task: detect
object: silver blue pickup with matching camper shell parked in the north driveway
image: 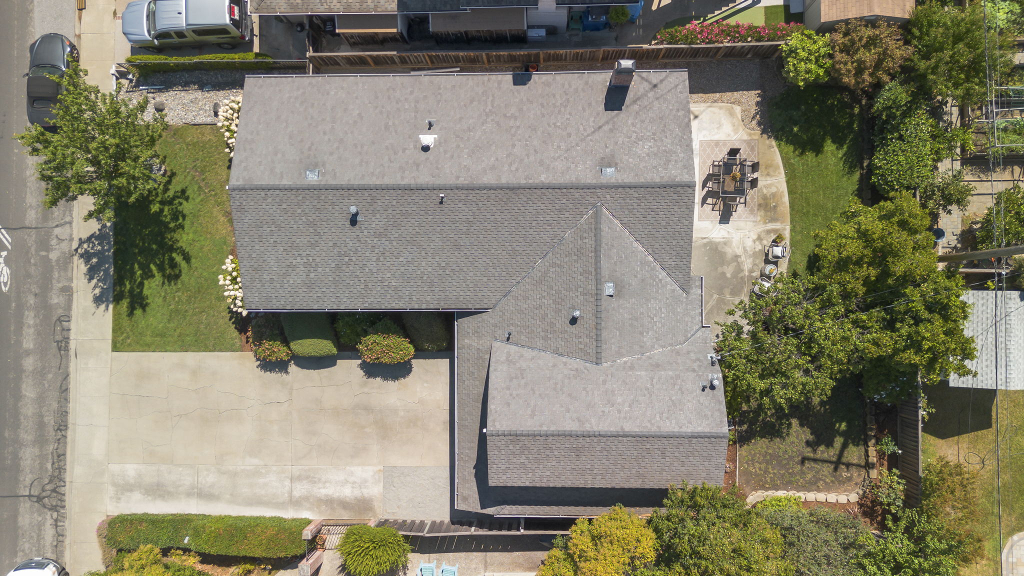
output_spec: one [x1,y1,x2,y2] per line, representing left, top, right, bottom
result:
[120,0,257,54]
